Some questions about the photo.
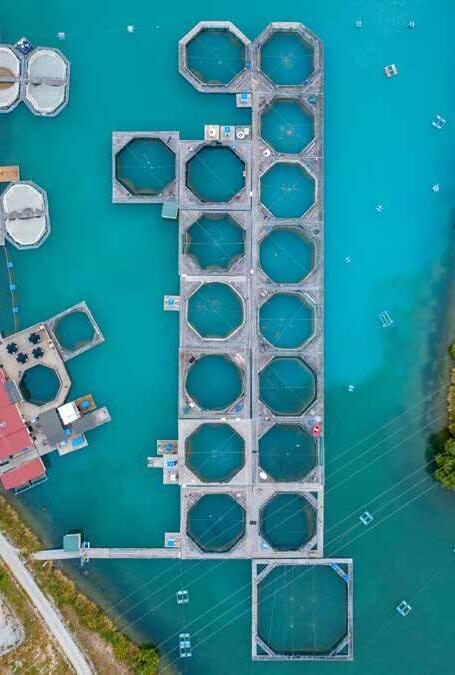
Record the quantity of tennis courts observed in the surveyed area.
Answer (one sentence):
The count of tennis courts is 0.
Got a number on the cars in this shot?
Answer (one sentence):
I count no cars.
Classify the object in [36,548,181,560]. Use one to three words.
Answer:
pier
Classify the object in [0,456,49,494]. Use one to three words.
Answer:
shed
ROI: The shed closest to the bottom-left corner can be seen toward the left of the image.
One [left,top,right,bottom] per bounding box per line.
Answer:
[63,531,82,552]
